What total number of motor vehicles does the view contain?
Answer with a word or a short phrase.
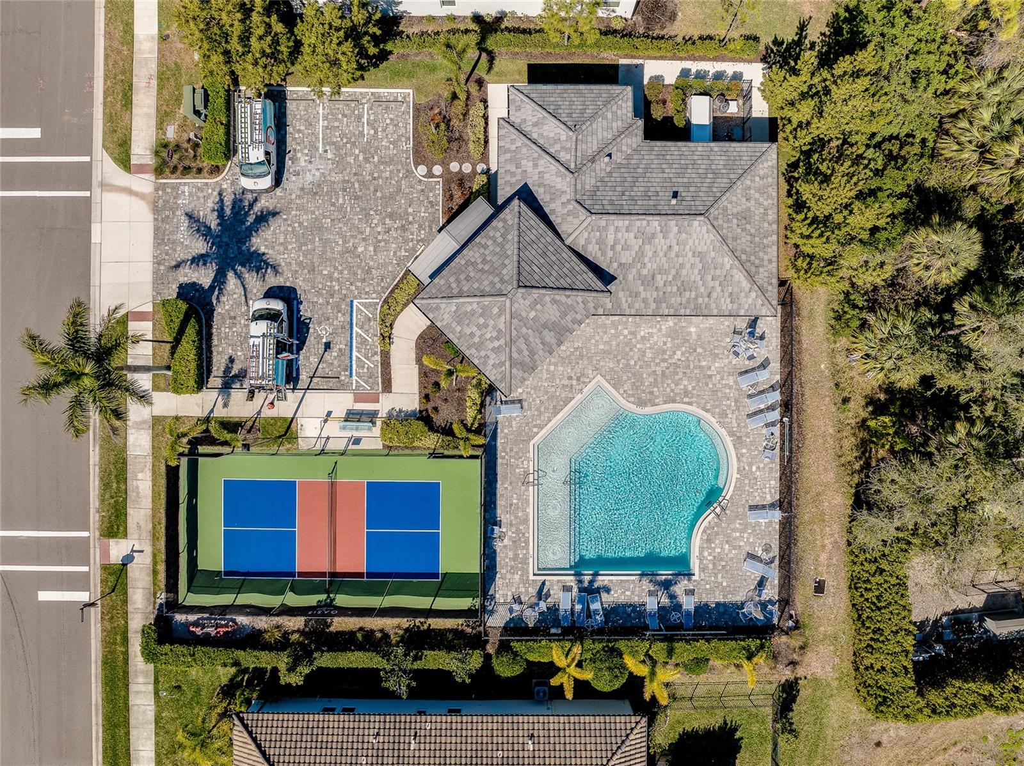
two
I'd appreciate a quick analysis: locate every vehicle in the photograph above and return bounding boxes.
[236,95,280,195]
[246,296,304,399]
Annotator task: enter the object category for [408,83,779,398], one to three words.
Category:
building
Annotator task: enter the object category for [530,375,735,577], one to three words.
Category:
swimming pool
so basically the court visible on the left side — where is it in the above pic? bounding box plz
[178,451,483,606]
